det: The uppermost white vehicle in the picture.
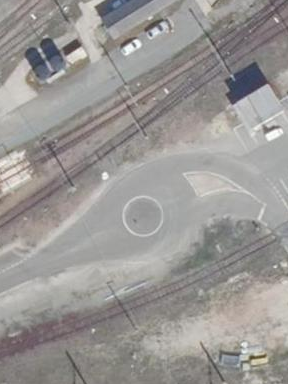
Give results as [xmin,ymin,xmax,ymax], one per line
[146,20,171,39]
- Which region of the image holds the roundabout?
center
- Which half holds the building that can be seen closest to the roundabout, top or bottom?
top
